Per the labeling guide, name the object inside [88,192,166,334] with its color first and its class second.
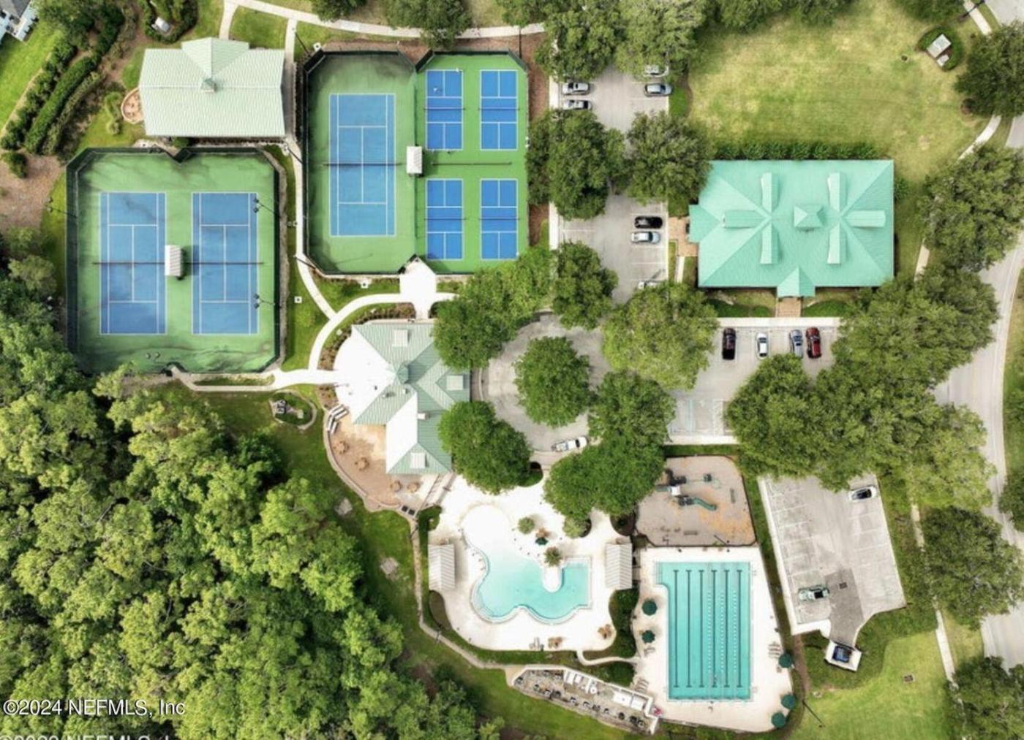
blue tennis court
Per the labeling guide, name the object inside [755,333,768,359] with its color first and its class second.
white vehicle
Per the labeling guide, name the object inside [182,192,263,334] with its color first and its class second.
blue tennis court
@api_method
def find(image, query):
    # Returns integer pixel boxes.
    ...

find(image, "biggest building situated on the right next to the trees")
[684,159,894,298]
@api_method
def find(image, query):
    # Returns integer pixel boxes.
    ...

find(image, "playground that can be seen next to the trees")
[659,470,723,512]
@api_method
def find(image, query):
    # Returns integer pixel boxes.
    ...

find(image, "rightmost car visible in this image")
[847,485,878,501]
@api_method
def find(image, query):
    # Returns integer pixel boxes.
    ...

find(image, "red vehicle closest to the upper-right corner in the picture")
[804,328,821,358]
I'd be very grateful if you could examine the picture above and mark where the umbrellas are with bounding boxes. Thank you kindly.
[651,703,662,715]
[779,693,795,708]
[769,711,785,726]
[641,598,657,614]
[777,651,792,667]
[535,535,548,547]
[641,628,655,643]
